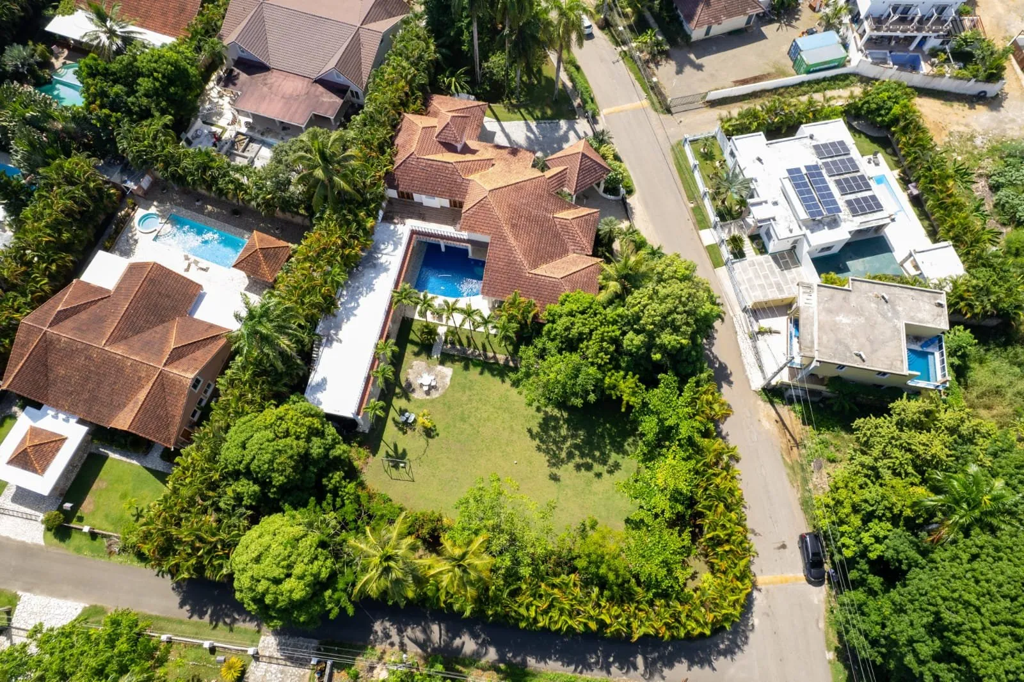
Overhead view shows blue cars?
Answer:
No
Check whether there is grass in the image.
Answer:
Yes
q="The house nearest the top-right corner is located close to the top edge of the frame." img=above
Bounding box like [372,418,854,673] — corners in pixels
[849,0,971,52]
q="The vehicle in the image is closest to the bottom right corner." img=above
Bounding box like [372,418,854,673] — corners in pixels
[796,534,828,589]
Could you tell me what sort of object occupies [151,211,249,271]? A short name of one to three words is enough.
swimming pool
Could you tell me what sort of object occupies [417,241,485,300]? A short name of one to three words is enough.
swimming pool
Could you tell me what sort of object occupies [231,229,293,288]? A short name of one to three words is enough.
gazebo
